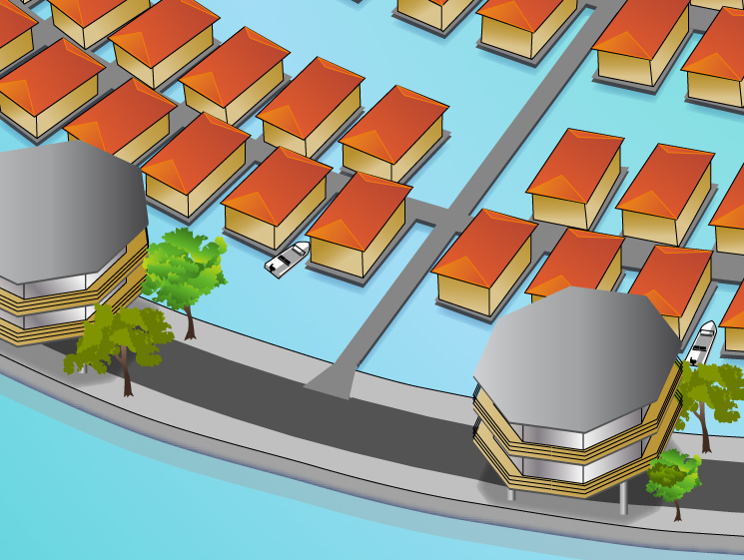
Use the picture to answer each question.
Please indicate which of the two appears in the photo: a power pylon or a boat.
boat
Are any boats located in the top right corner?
No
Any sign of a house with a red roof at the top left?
Yes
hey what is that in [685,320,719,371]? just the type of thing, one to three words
boat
